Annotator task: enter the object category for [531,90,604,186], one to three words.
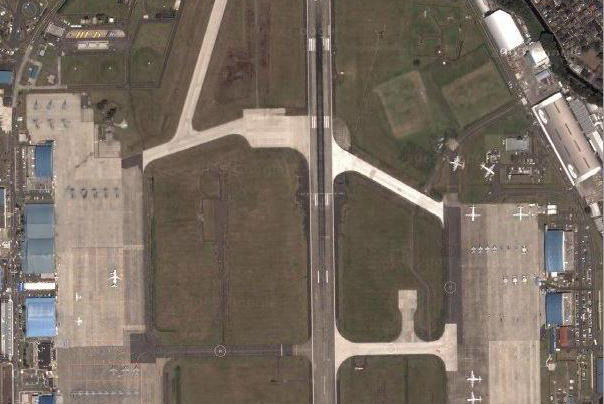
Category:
building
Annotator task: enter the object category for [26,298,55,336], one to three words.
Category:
hangar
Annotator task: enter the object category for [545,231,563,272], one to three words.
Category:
hangar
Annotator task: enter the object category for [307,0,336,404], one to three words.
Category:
runway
